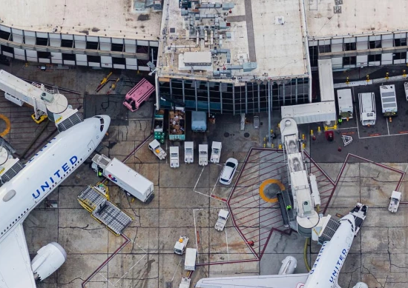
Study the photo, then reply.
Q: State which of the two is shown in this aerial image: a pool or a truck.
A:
truck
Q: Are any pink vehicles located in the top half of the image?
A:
Yes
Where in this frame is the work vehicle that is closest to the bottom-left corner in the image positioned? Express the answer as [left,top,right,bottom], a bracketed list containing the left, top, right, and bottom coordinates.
[75,183,134,240]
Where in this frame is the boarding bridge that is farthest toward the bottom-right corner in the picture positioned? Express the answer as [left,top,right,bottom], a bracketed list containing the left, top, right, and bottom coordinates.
[270,116,341,246]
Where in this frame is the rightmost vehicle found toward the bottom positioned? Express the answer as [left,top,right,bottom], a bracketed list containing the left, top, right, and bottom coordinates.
[388,189,402,215]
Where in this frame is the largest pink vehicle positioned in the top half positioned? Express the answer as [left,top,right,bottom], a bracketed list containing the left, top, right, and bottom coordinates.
[122,82,155,113]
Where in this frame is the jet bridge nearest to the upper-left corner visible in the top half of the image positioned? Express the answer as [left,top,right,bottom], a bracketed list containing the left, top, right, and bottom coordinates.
[0,69,87,128]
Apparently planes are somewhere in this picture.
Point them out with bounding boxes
[193,211,371,288]
[0,112,111,288]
